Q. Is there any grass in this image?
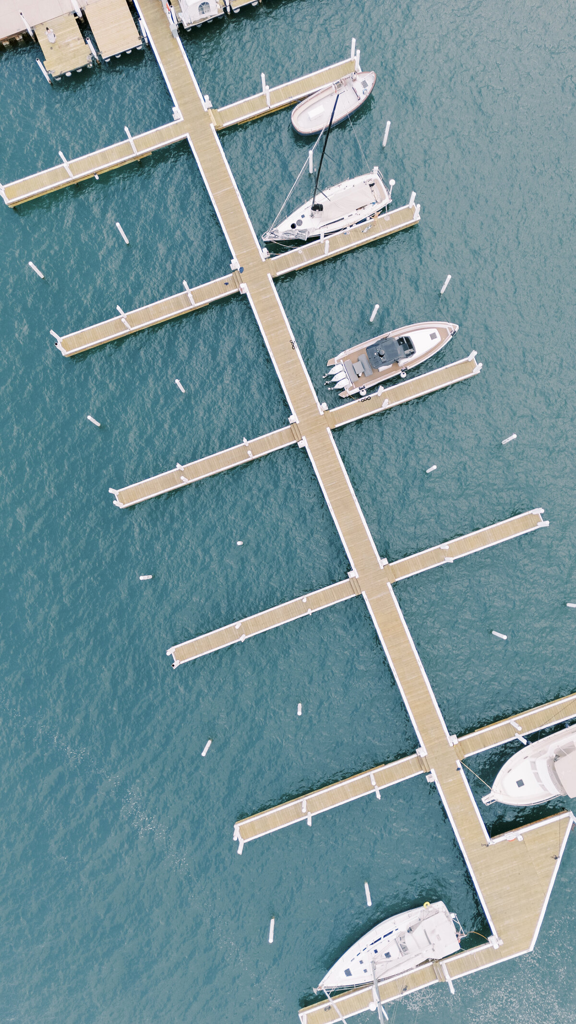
No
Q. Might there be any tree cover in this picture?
No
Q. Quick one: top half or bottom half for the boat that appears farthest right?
bottom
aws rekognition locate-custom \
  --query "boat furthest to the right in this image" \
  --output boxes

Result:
[481,721,576,807]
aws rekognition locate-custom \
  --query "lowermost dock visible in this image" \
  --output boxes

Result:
[299,961,447,1024]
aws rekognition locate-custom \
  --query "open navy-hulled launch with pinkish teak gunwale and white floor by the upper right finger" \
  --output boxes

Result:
[290,71,377,133]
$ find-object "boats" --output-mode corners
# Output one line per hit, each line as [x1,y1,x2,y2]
[325,323,460,398]
[290,71,377,133]
[310,899,465,1024]
[481,721,576,807]
[260,91,397,244]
